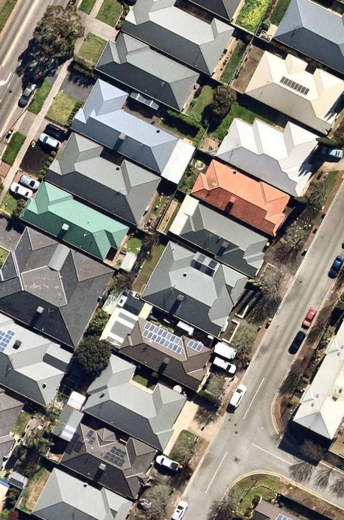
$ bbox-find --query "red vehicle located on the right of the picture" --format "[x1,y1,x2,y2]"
[303,308,317,327]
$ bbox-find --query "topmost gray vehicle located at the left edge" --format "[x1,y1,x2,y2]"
[17,83,34,107]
